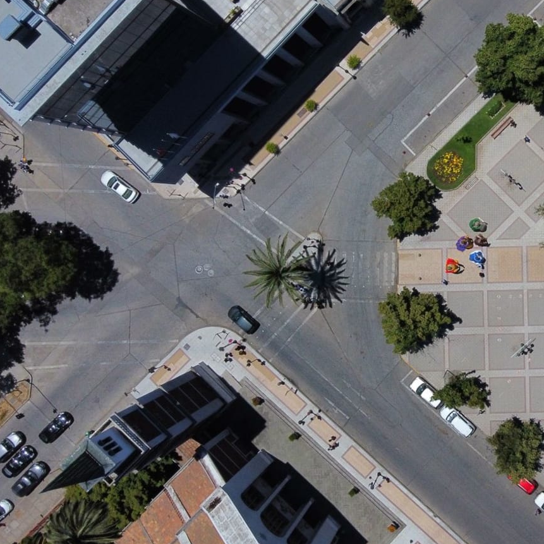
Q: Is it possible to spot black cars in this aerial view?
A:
Yes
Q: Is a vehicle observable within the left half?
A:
Yes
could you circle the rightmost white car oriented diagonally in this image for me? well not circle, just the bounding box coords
[439,407,479,441]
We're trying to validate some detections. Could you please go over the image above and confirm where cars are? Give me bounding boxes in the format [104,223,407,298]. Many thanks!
[226,302,263,337]
[8,460,53,498]
[100,169,142,205]
[439,407,479,441]
[0,498,17,520]
[500,463,536,498]
[0,428,31,463]
[408,375,441,410]
[37,410,76,444]
[0,444,40,478]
